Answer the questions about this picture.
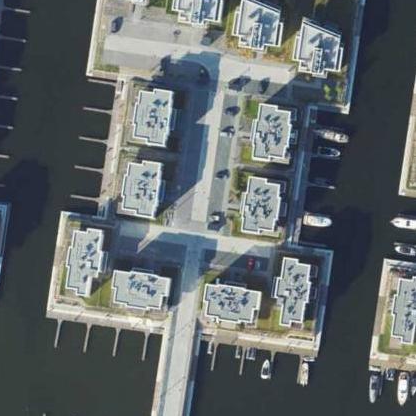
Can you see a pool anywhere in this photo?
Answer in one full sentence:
No, I can't see a single pool in this photo.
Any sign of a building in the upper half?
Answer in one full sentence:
Yes, a building shows up in the upper half.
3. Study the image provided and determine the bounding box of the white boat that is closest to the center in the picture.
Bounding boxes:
[303,214,331,227]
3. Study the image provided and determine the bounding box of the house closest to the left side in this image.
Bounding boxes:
[65,229,106,297]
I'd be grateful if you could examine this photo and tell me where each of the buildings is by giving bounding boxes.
[132,90,177,146]
[291,18,345,76]
[273,258,317,326]
[388,277,416,344]
[240,177,288,234]
[122,162,167,218]
[65,229,106,297]
[110,267,171,310]
[231,0,286,51]
[170,0,224,26]
[250,104,299,161]
[202,281,263,323]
